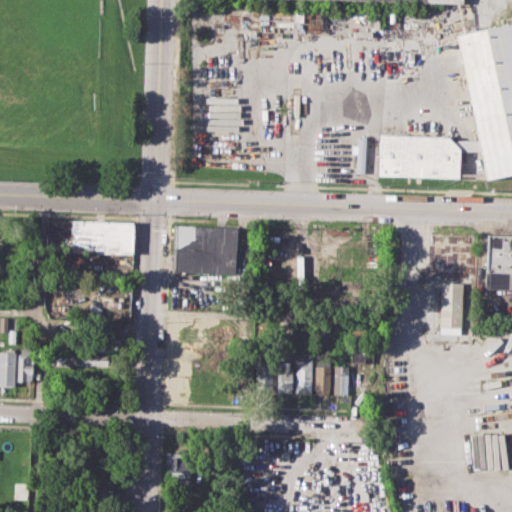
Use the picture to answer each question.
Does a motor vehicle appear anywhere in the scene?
Yes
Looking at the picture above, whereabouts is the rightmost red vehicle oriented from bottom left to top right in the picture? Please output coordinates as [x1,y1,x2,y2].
[486,352,506,370]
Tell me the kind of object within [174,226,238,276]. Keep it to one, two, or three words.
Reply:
building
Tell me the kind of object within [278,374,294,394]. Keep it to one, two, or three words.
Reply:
house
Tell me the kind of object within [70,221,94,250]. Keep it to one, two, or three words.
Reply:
building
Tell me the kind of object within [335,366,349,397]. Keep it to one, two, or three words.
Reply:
house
